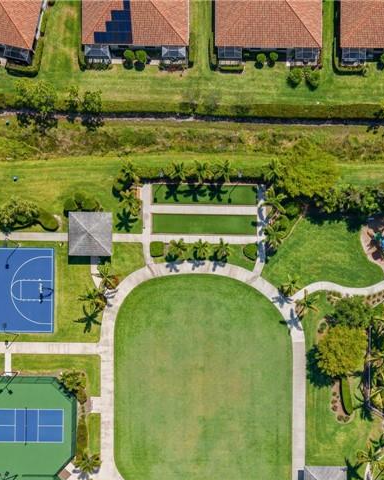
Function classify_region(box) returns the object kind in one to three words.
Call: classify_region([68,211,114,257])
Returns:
building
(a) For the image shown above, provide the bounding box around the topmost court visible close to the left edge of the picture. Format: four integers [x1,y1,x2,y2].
[0,248,54,332]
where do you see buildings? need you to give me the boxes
[0,0,45,72]
[68,211,114,257]
[81,0,189,71]
[304,466,347,480]
[215,0,322,73]
[340,0,384,73]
